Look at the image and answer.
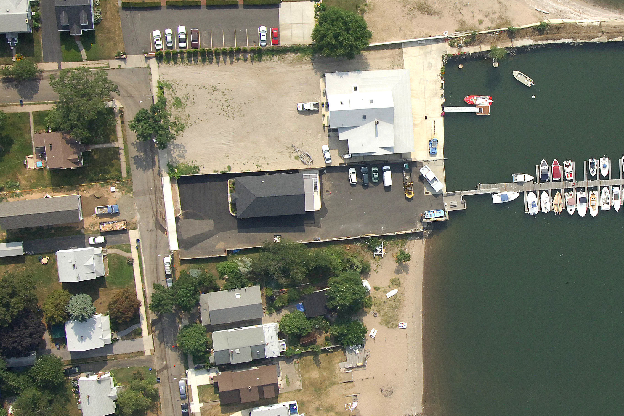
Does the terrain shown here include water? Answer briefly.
Yes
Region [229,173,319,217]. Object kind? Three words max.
building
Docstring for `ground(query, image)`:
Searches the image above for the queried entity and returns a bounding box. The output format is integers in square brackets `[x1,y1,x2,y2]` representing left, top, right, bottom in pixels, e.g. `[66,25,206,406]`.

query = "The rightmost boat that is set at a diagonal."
[513,72,534,88]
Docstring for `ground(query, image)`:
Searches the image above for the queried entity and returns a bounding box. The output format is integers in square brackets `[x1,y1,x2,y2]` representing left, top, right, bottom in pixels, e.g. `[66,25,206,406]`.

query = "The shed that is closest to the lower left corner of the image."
[6,352,36,370]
